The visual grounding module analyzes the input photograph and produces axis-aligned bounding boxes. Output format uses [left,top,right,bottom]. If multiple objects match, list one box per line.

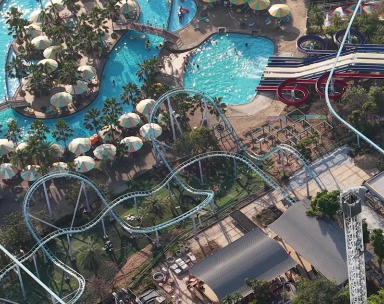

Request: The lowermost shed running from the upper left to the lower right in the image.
[268,200,356,304]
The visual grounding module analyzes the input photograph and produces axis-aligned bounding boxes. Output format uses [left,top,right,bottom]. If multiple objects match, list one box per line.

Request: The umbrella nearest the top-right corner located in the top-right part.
[268,5,291,22]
